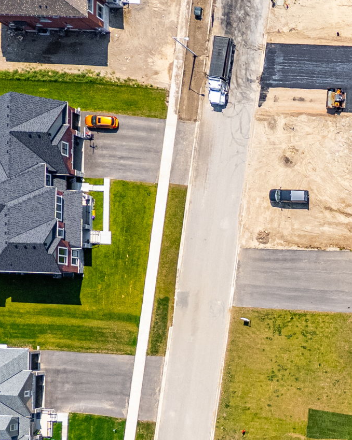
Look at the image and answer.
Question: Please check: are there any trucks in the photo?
Yes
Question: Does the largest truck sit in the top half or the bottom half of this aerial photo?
top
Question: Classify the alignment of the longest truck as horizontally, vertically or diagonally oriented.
vertically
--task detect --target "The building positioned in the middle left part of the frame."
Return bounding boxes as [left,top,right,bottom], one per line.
[0,90,101,277]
